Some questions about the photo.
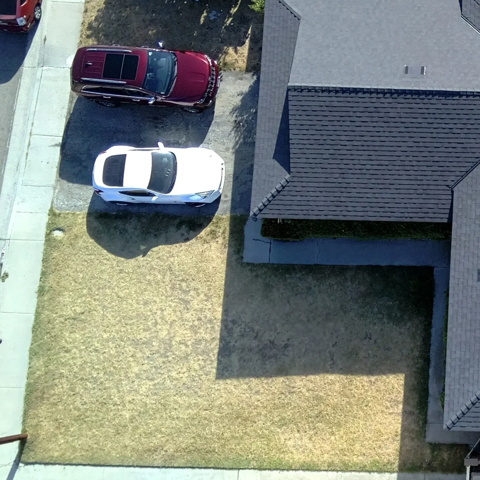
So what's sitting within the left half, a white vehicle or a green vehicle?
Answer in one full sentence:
The feature located within the left half is a white vehicle.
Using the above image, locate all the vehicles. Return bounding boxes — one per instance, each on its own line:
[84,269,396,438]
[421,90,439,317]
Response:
[92,141,227,208]
[68,41,223,114]
[0,0,41,34]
